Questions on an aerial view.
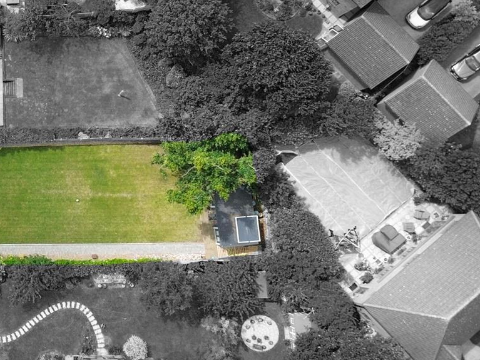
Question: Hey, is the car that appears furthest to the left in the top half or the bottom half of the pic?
top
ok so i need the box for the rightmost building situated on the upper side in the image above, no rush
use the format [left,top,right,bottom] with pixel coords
[374,60,480,148]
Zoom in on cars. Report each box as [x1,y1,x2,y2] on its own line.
[449,46,480,79]
[407,0,452,28]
